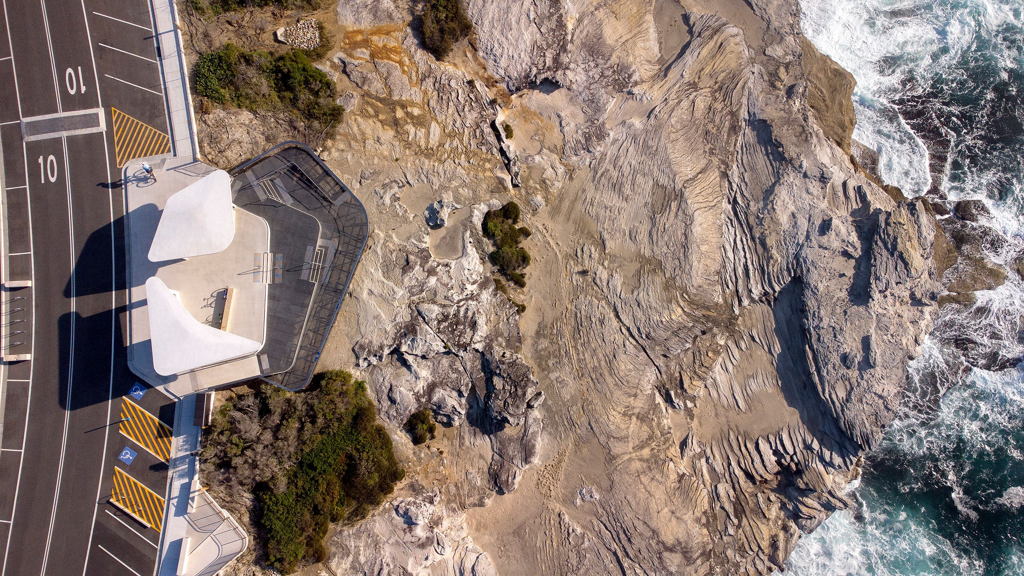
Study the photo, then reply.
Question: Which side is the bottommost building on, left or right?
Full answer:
The bottommost building appears in the left half of the scene.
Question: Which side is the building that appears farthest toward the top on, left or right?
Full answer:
The building that appears farthest toward the top appears in the left half of the scene.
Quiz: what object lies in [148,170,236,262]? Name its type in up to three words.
building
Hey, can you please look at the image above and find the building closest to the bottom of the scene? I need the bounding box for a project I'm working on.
[146,277,262,376]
